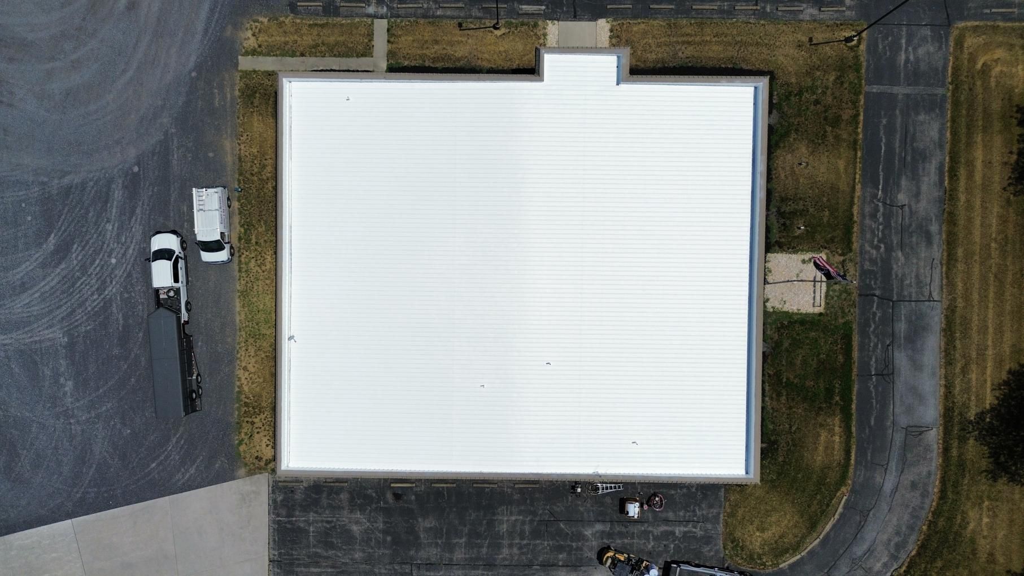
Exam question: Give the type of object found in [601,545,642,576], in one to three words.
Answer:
work vehicle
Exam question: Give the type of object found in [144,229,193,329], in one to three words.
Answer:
truck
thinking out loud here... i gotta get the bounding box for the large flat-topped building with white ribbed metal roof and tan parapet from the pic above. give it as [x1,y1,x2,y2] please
[275,46,769,484]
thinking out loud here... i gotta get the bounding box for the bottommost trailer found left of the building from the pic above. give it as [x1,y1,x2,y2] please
[145,305,205,417]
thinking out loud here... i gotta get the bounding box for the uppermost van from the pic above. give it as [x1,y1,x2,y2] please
[190,188,235,266]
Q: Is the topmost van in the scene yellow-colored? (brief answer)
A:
No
